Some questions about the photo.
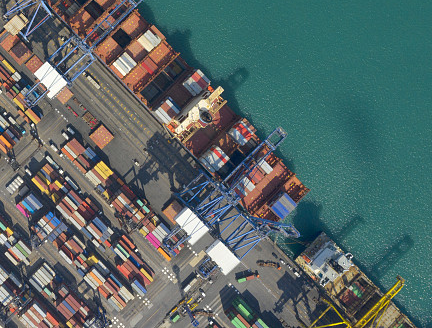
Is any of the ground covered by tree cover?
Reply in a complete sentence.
No, no tree cover is visible.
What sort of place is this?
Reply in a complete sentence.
It's a port.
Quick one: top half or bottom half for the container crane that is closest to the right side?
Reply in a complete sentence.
Seen from above, the container crane that is closest to the right side lies in the bottom half of the view.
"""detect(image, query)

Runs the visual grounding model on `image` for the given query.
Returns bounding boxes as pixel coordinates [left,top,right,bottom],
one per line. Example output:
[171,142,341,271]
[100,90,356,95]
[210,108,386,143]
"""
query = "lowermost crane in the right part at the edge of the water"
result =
[293,276,410,328]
